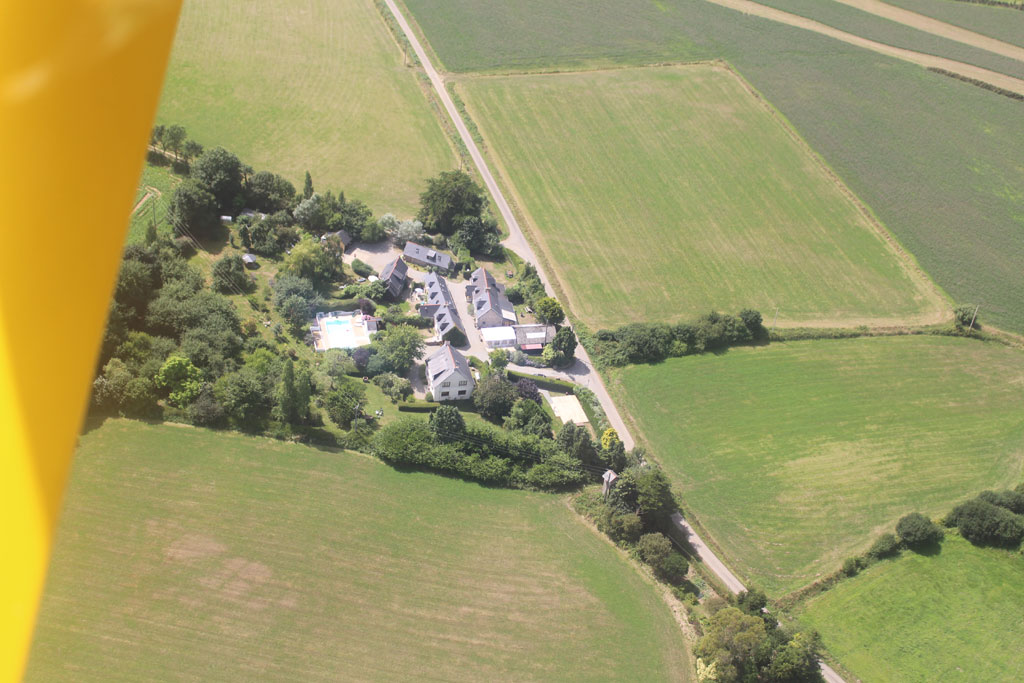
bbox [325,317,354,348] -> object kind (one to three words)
swimming pool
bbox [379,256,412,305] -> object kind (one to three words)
barn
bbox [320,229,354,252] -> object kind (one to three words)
shed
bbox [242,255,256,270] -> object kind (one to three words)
gazebo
